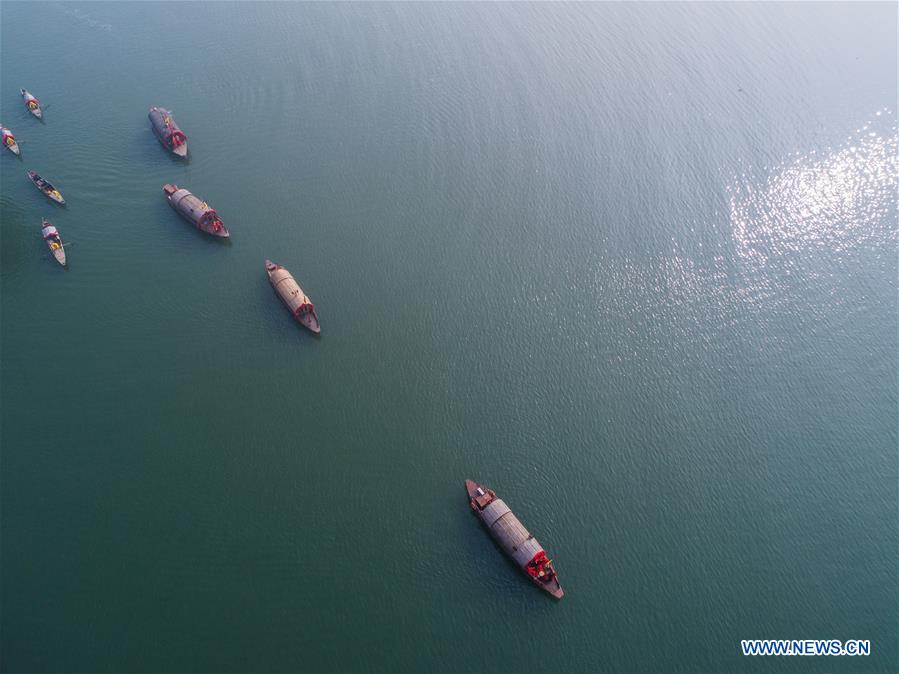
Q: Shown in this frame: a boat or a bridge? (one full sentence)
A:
Visible in the photo is a boat.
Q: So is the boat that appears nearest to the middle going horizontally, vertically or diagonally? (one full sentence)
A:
In this picture, the boat that appears nearest to the middle lies diagonally.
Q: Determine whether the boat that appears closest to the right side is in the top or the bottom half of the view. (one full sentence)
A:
The boat that appears closest to the right side sits in the bottom half of the picture.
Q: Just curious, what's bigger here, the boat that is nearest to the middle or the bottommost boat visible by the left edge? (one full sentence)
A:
Compared with the bottommost boat visible by the left edge, the boat that is nearest to the middle is the bigger one.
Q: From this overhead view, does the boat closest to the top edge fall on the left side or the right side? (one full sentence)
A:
You can find the boat closest to the top edge on the left side of the picture.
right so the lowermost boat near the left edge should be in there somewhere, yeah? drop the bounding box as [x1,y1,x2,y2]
[38,216,79,269]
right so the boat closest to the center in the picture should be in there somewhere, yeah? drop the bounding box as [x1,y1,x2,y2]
[263,262,322,336]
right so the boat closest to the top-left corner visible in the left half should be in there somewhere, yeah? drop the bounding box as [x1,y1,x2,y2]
[18,88,42,119]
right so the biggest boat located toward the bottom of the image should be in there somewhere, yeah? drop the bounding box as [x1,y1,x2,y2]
[464,479,565,600]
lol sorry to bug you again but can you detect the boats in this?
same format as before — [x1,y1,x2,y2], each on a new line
[161,183,232,243]
[25,170,66,205]
[263,262,322,336]
[0,124,31,157]
[18,88,42,119]
[147,108,190,161]
[38,216,79,269]
[464,479,565,600]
